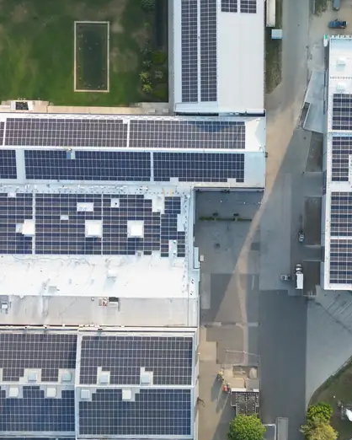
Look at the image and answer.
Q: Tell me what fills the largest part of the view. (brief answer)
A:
buildings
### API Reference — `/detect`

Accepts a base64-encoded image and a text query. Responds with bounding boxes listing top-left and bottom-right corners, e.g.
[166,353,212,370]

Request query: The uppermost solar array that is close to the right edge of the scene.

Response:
[333,94,352,130]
